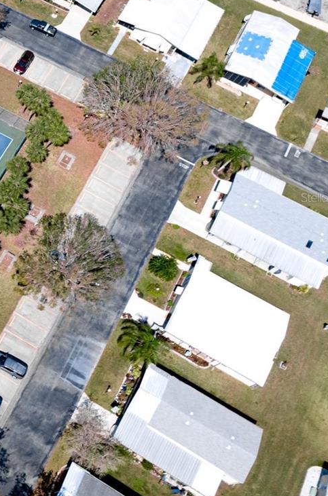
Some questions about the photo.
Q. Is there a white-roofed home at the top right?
Yes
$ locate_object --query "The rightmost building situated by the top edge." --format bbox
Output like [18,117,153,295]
[220,10,320,101]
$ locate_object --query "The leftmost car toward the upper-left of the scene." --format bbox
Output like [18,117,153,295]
[14,50,35,72]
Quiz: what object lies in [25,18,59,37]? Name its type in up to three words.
vehicle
